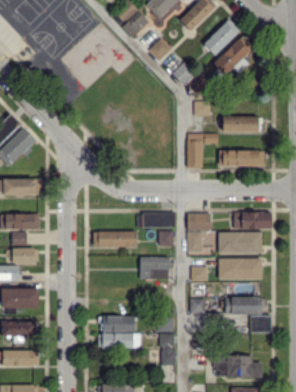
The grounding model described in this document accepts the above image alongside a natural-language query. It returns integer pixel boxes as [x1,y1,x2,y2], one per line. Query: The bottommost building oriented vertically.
[160,333,174,366]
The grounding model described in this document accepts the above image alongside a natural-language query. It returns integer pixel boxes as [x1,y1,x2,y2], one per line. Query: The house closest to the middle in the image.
[136,211,174,226]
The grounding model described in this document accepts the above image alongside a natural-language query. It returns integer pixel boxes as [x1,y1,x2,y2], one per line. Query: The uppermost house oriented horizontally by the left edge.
[0,178,38,196]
